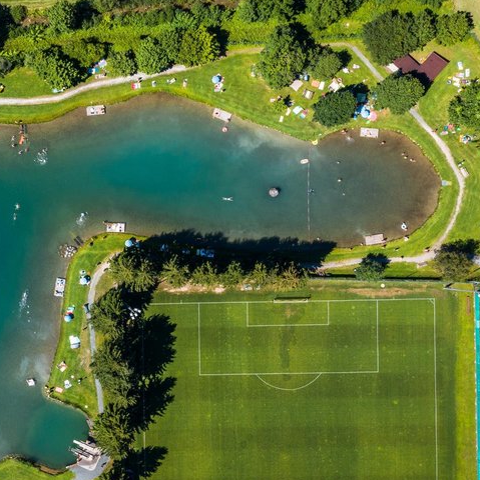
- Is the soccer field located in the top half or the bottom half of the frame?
bottom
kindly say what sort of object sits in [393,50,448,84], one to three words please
building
